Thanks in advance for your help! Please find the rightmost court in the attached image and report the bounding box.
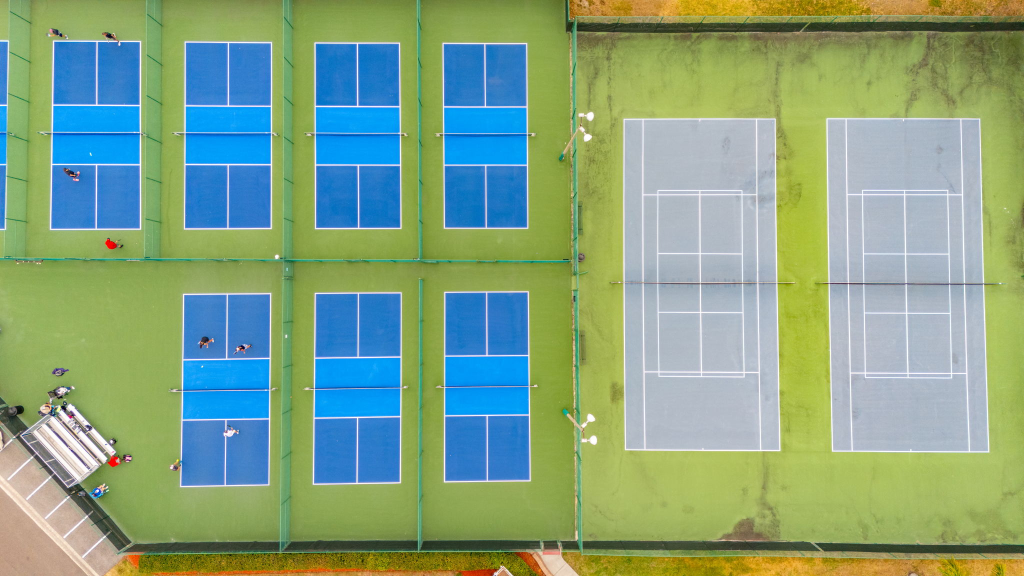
[827,118,989,452]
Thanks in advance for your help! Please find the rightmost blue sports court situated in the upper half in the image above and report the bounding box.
[443,43,528,229]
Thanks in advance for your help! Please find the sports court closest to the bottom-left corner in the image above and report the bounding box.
[181,294,271,486]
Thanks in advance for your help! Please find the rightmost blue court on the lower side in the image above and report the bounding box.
[445,292,529,482]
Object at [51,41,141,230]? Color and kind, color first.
blue sports court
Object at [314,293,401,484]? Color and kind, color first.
blue sports court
